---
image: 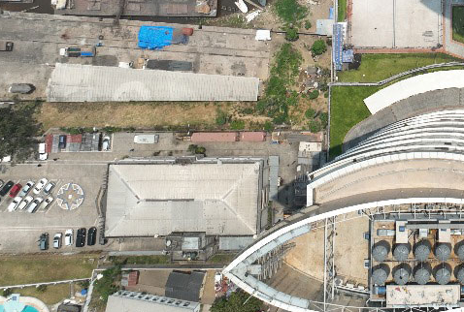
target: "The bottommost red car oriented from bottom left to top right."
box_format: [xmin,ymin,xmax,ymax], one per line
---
[8,182,24,198]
